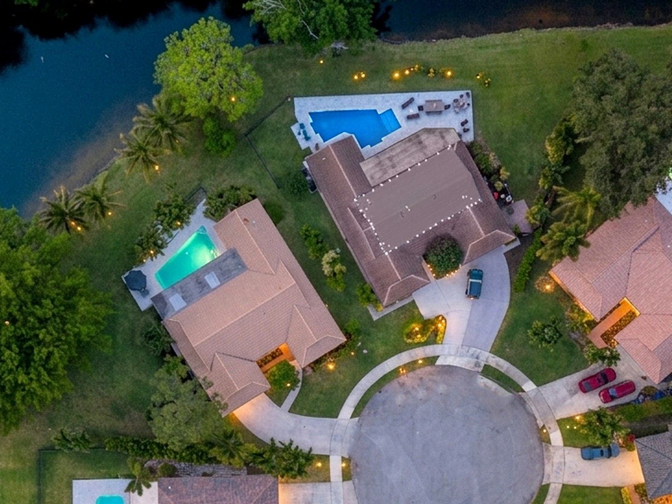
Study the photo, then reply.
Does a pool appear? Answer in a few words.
Yes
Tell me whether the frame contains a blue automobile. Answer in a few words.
Yes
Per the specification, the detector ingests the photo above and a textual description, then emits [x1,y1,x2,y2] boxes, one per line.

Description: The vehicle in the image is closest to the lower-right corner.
[577,444,621,462]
